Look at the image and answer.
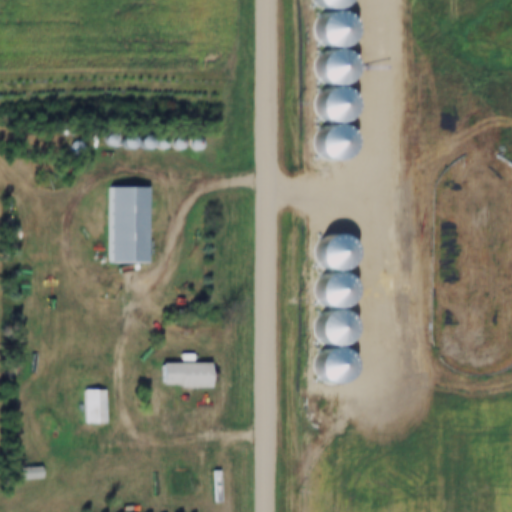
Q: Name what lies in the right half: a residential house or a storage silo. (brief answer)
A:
storage silo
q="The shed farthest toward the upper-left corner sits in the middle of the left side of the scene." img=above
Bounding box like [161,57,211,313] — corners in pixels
[109,187,152,263]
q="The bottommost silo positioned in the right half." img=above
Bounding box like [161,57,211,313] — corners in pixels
[316,346,363,385]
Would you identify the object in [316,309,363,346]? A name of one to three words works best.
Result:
silo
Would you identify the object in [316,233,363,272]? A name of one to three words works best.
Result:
silo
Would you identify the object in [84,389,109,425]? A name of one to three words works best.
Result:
shed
